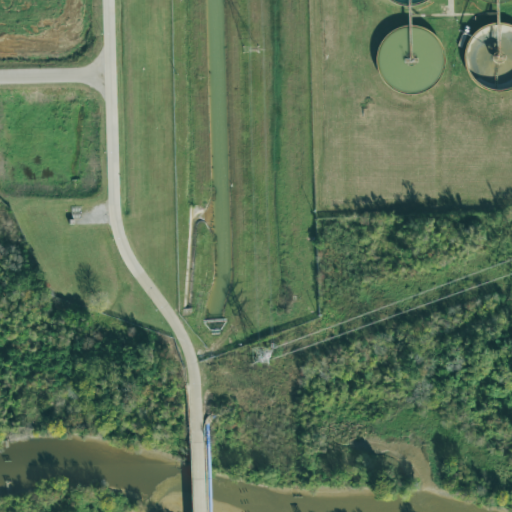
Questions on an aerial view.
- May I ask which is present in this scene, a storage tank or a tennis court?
storage tank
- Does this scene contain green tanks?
Yes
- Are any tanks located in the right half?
Yes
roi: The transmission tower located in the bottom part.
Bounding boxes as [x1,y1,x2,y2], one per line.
[252,347,272,362]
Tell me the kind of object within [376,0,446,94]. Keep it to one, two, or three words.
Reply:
storage tank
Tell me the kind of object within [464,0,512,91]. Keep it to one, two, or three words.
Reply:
storage tank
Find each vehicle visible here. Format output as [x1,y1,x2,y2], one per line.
[458,30,484,47]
